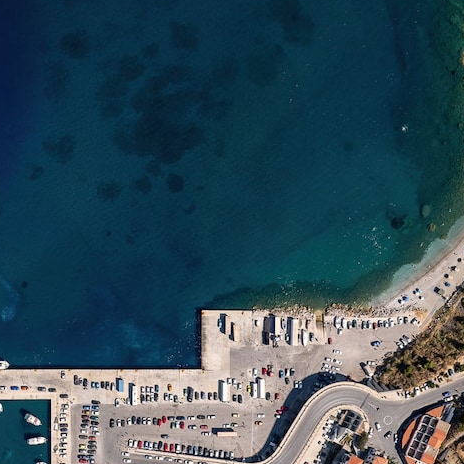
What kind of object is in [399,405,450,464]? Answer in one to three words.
building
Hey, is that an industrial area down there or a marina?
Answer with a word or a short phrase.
marina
